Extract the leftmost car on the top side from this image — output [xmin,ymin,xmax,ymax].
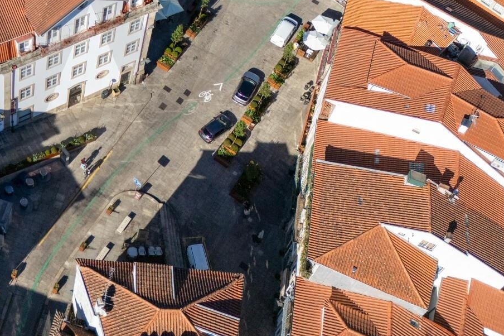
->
[197,109,236,145]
